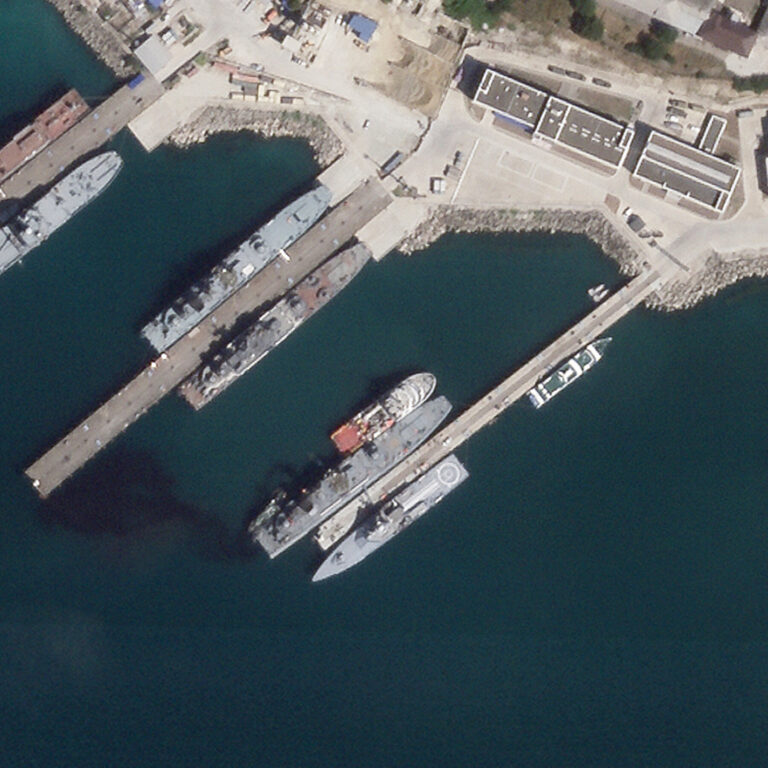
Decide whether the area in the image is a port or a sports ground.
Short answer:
port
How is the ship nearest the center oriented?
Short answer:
at an angle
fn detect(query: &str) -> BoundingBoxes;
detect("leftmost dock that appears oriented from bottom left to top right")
[0,68,164,220]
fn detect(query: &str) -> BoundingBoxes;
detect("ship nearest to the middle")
[331,373,435,452]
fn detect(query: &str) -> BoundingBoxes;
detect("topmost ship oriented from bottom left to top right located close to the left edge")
[0,91,91,184]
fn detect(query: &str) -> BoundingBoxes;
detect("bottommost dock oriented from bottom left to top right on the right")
[318,262,674,550]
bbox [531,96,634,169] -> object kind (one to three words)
building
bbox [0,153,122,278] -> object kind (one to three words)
ship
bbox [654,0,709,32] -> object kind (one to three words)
building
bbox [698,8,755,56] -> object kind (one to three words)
house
